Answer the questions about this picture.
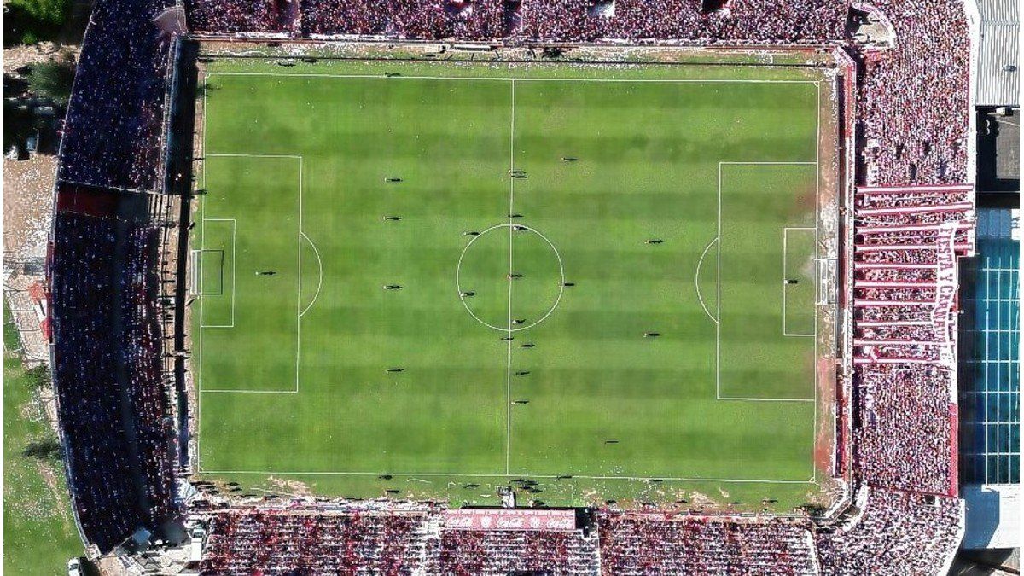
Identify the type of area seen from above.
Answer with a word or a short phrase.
sports ground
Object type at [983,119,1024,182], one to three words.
building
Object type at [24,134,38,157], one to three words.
car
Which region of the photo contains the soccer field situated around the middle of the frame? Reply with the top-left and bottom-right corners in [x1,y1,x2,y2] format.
[198,73,819,483]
